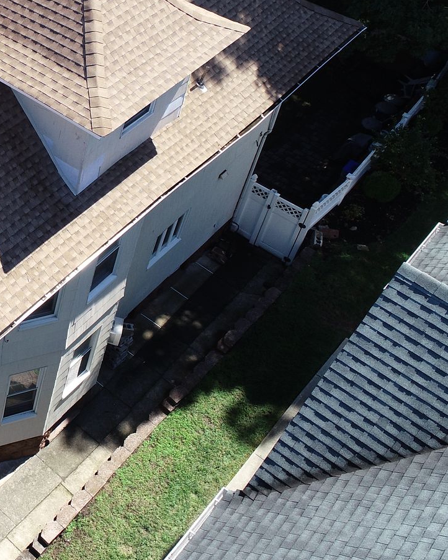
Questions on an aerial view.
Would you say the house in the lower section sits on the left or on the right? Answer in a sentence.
The house in the lower section appears in the right half of the scene.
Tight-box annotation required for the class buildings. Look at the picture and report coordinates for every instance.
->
[0,0,371,465]
[181,229,448,560]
